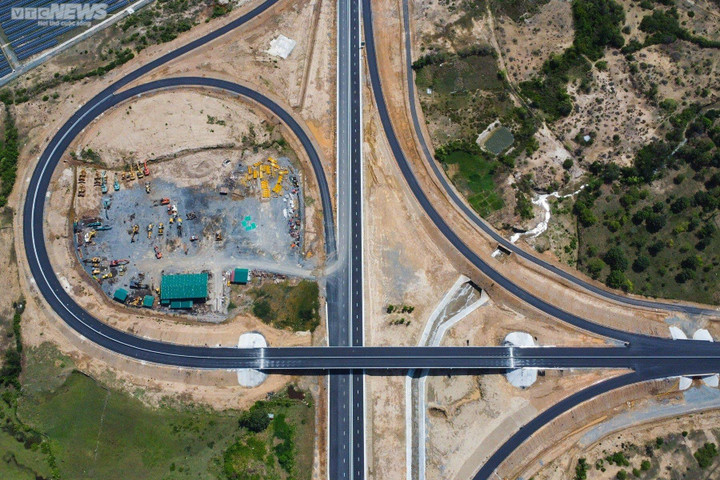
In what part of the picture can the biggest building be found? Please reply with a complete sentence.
The biggest building appears toward the left of the photo.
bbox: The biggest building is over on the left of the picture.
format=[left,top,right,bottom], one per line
[160,273,210,300]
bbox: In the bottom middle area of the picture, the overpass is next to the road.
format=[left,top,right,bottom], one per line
[238,331,536,388]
